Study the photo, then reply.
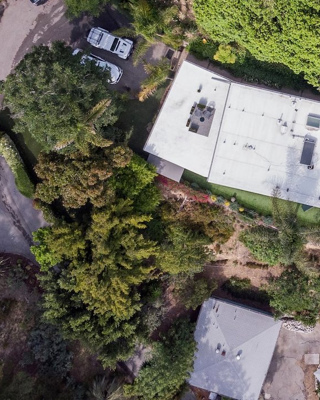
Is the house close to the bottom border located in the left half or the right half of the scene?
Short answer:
right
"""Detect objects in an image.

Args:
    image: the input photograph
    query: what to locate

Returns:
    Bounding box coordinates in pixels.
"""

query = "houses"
[143,61,320,207]
[188,295,284,400]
